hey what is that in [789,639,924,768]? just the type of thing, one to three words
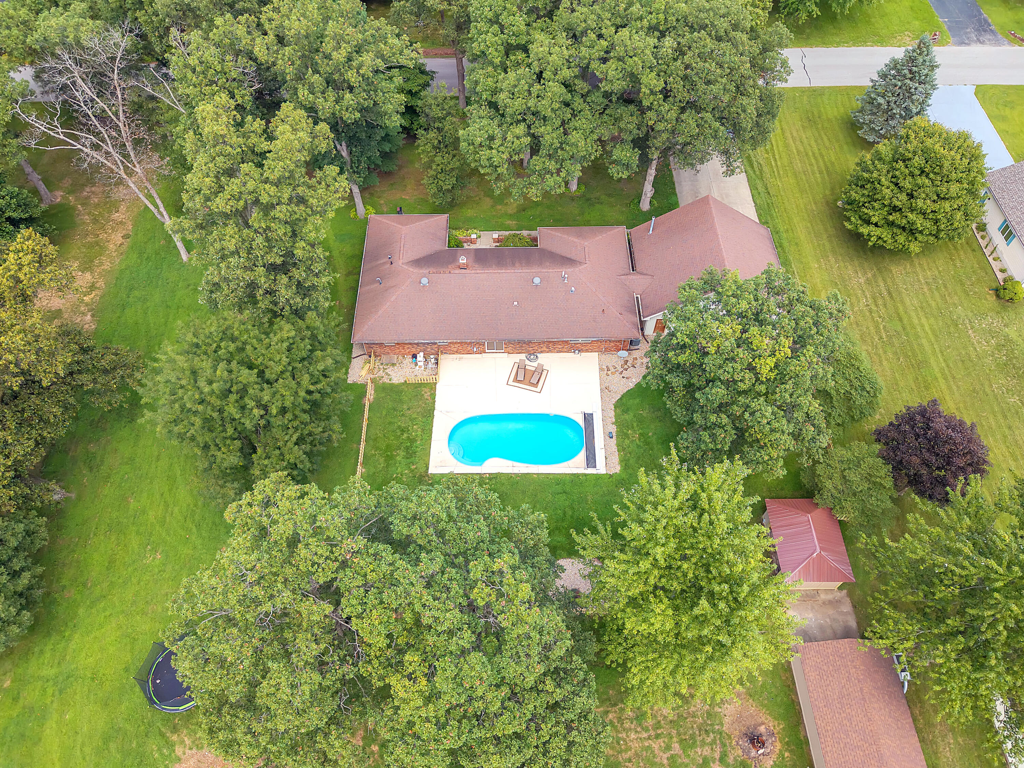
shed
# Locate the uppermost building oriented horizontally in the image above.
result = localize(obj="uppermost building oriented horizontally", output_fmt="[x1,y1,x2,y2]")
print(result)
[349,194,790,359]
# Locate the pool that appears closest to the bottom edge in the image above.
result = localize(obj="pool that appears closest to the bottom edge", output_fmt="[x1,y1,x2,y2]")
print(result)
[447,412,584,467]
